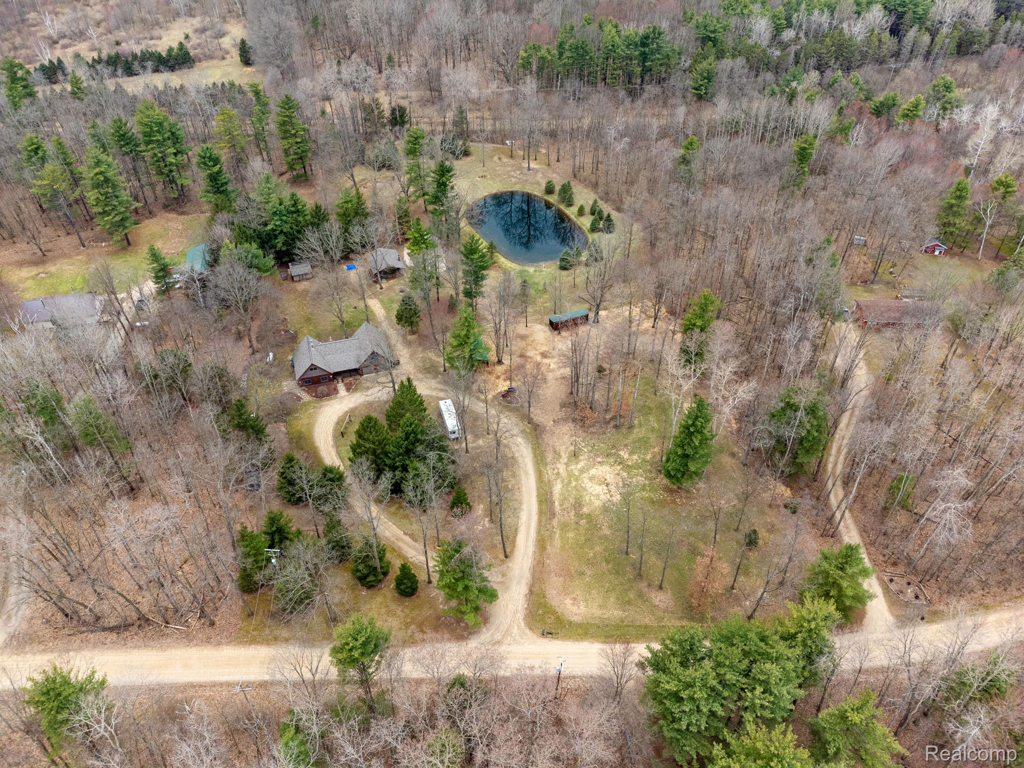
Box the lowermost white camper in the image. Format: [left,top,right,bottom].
[439,400,460,442]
